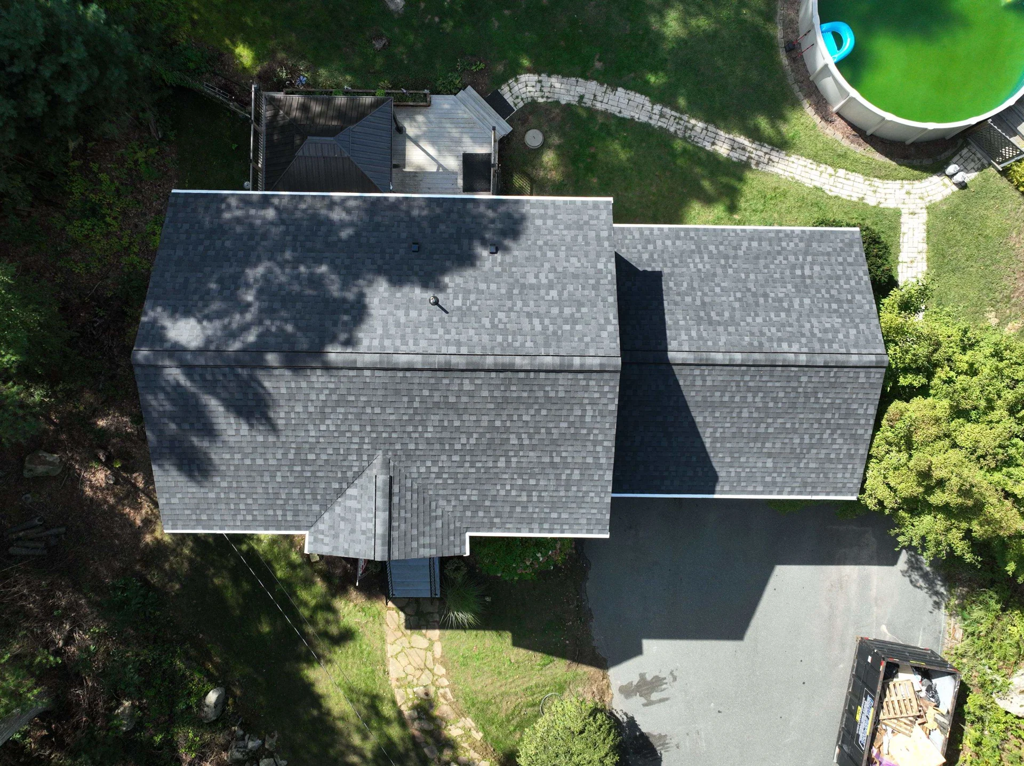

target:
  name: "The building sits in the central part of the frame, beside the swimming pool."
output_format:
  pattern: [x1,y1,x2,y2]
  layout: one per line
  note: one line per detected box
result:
[133,188,887,562]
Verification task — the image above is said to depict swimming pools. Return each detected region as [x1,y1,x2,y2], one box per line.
[797,0,1024,144]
